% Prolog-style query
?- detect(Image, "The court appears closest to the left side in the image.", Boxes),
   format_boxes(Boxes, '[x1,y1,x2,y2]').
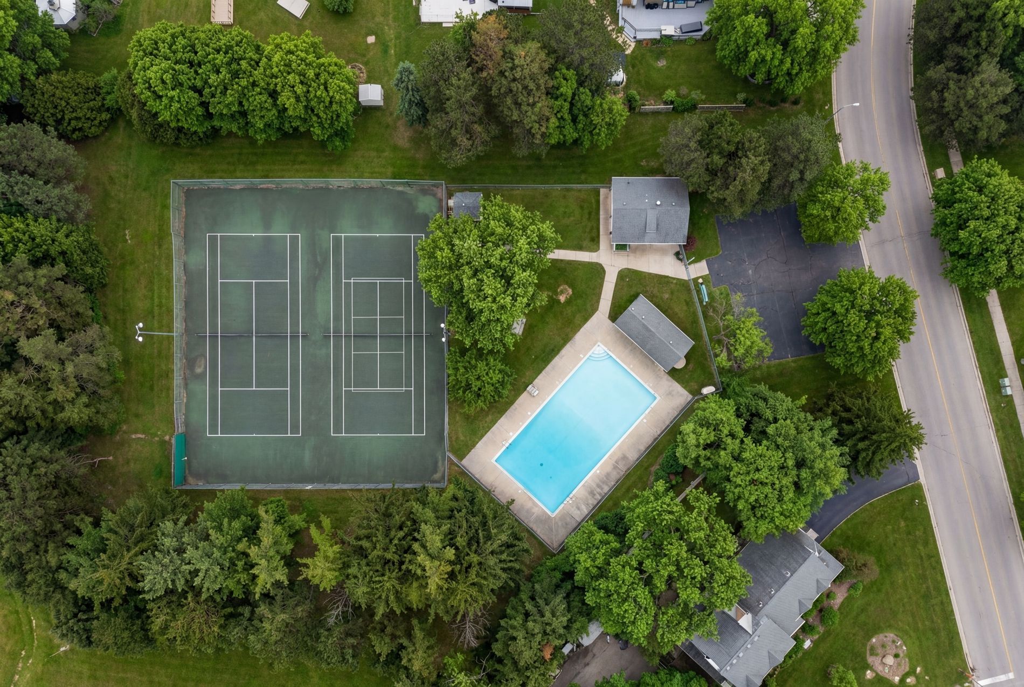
[184,186,316,485]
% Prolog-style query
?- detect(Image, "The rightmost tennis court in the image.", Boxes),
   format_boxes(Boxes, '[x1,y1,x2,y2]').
[316,186,447,485]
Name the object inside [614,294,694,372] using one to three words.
building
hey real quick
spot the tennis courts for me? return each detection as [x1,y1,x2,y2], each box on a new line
[316,186,447,485]
[184,186,316,485]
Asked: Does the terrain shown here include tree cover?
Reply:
Yes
